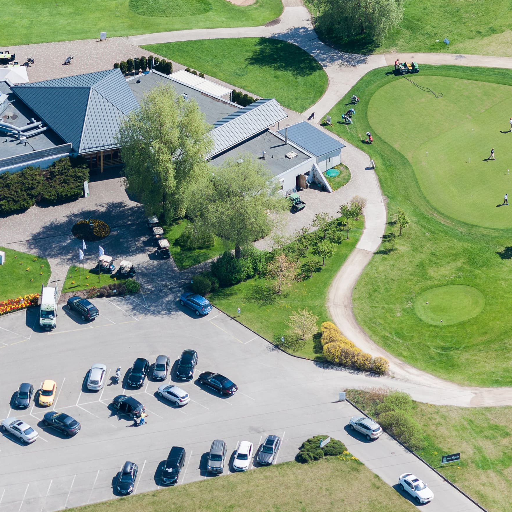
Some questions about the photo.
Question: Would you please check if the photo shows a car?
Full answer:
Yes, the picture does show a car.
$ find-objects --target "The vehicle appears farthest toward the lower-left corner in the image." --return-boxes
[0,419,42,445]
